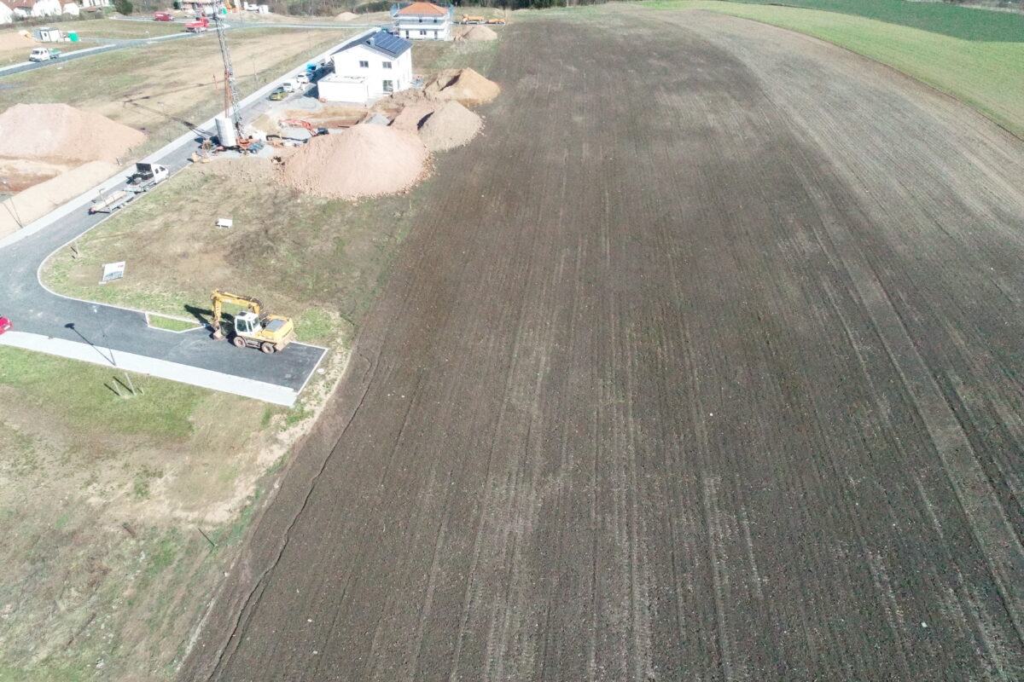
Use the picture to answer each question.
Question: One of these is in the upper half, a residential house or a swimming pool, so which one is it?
residential house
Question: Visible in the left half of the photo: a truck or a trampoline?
truck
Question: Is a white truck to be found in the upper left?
Yes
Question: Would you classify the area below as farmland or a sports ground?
farmland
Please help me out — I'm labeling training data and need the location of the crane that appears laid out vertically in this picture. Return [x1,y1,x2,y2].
[199,0,255,152]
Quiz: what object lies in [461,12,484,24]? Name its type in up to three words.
vehicle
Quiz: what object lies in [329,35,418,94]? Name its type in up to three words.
house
